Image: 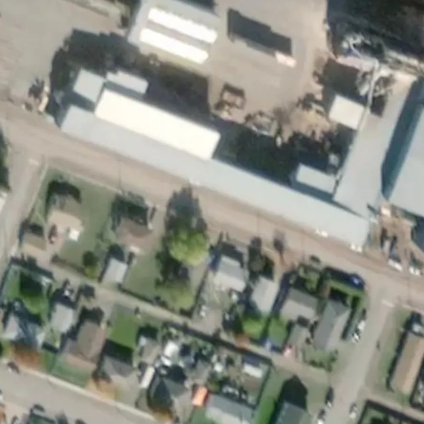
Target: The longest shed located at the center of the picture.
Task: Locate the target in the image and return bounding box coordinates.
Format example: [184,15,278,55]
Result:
[58,107,373,246]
